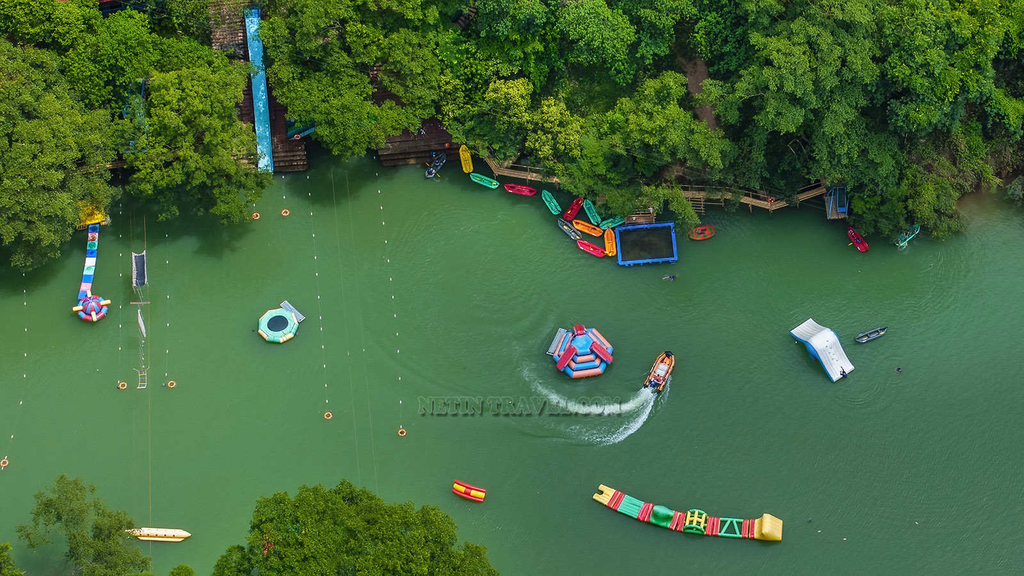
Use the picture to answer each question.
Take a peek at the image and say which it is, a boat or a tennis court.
boat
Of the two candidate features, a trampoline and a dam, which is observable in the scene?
trampoline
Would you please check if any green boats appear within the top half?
Yes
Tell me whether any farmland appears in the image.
No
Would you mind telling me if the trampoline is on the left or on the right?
left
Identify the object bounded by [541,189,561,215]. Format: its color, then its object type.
green boat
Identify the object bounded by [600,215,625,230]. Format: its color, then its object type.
green boat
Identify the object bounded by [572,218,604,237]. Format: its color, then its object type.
orange boat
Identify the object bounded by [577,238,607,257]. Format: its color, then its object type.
red boat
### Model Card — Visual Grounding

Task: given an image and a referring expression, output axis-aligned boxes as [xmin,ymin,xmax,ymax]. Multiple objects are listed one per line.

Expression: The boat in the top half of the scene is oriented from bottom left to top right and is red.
[565,196,584,220]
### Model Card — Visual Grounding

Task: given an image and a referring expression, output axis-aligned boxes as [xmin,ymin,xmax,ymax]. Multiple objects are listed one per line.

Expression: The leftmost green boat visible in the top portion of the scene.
[470,172,499,189]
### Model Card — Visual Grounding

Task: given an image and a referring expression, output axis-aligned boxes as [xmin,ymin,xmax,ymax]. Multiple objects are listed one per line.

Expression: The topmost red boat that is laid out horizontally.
[504,183,537,195]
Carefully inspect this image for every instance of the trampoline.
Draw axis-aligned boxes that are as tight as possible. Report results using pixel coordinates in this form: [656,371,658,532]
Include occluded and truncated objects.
[258,300,304,344]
